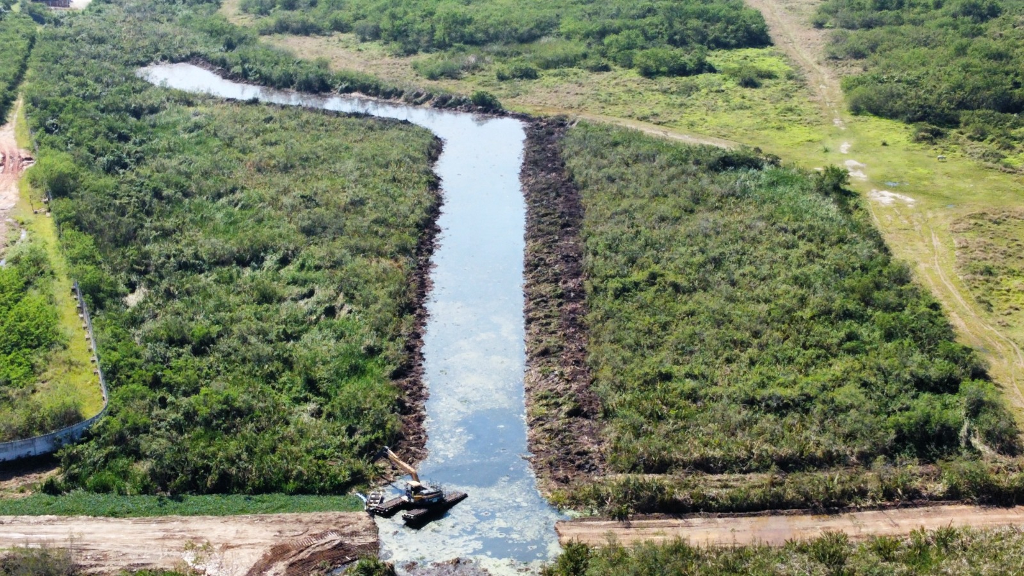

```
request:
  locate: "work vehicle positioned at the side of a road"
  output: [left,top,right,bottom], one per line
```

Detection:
[366,448,466,524]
